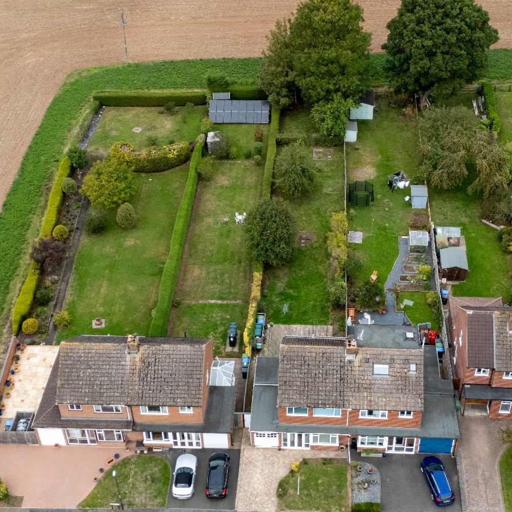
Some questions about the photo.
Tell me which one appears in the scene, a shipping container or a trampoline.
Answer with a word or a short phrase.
trampoline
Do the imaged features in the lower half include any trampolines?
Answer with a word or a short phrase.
No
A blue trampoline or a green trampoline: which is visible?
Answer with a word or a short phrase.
green trampoline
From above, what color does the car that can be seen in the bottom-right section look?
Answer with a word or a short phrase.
blue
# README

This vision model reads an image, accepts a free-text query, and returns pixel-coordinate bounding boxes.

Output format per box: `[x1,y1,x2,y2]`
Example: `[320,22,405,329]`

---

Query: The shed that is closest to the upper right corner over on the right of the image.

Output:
[351,92,373,120]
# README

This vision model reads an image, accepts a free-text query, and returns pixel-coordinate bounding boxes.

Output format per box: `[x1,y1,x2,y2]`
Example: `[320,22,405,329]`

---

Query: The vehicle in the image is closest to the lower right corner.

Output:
[419,456,455,506]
